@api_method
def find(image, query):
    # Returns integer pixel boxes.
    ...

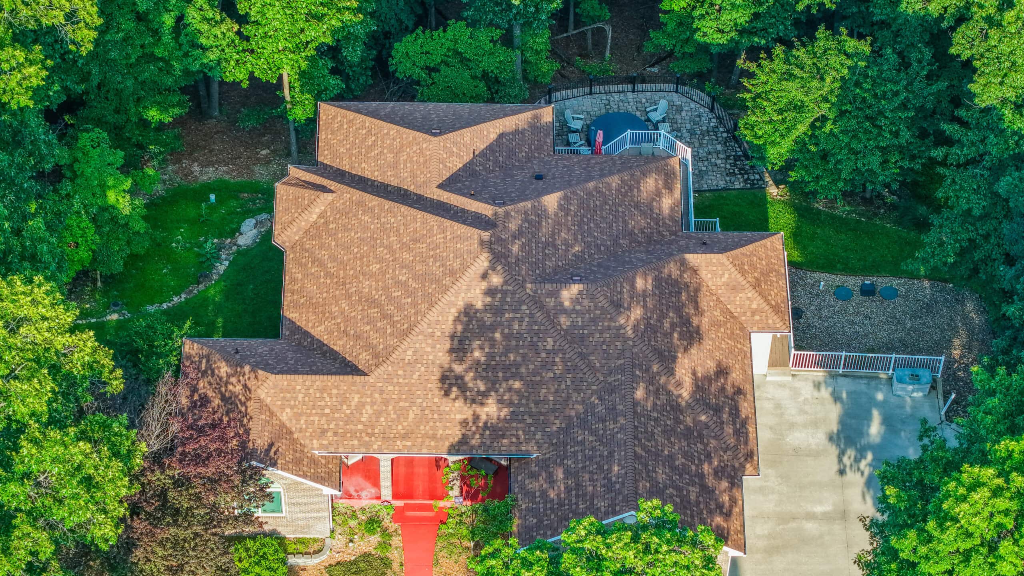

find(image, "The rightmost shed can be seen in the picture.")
[894,362,936,394]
